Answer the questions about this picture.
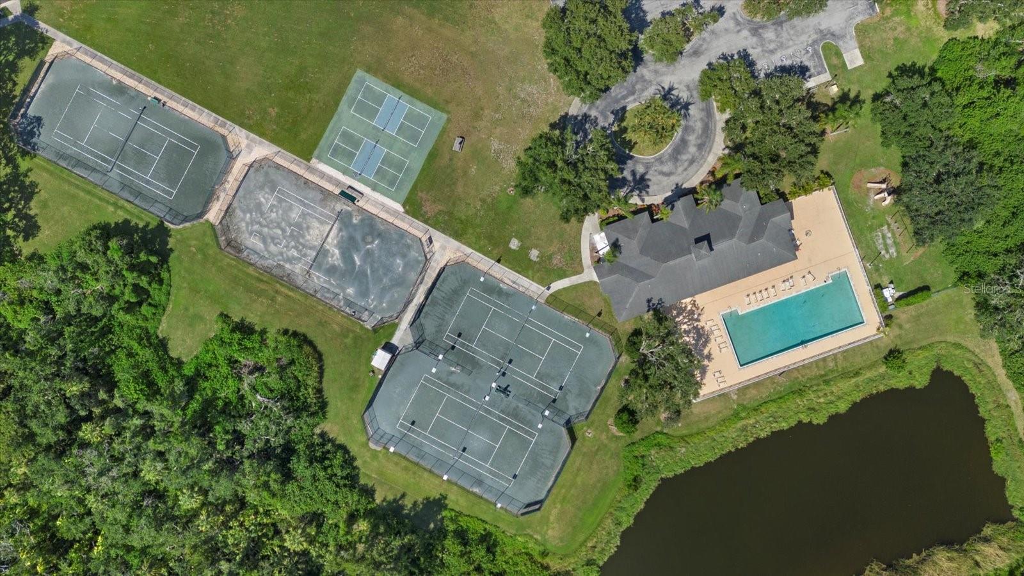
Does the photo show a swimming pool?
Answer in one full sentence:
Yes, the photo shows a swimming pool.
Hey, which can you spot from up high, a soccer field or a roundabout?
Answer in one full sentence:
Visible in the photo is a roundabout.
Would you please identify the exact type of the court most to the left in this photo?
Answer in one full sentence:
I'd say the court most to the left is a tennis court.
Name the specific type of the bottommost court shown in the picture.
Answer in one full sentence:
From above, the bottommost court can be identified as a tennis court.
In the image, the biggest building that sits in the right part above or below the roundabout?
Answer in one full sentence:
The position of the biggest building that sits in the right part is below the roundabout.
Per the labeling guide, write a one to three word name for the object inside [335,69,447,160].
sports court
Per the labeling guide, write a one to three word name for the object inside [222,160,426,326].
tennis court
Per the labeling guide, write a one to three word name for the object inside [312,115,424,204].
sports court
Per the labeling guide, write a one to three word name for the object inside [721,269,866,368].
swimming pool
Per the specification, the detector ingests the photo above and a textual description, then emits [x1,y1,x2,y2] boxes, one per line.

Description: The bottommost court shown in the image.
[366,350,570,511]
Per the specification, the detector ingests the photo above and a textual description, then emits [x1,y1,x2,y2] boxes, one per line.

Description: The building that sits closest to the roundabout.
[594,179,800,321]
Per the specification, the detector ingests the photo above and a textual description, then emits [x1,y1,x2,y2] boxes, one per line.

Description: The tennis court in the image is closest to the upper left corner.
[23,55,233,223]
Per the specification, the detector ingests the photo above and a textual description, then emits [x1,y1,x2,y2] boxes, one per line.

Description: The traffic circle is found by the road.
[614,96,680,156]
